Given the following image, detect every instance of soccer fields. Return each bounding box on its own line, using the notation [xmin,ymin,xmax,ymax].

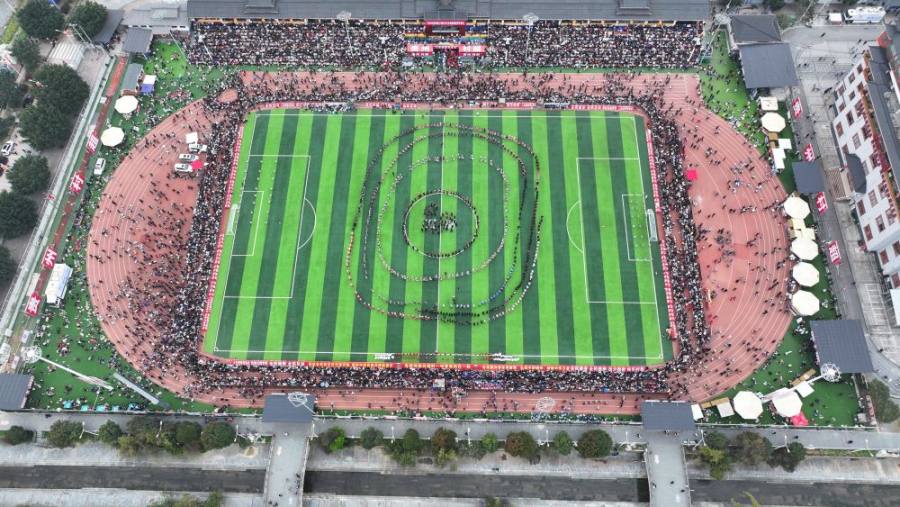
[199,109,679,366]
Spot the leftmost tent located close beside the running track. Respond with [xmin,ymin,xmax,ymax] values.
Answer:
[45,264,76,303]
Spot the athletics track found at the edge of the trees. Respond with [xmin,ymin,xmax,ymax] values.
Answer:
[87,71,794,415]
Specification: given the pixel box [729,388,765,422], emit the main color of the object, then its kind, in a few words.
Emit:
white umbrella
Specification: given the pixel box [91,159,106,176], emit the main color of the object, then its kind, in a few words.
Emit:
white car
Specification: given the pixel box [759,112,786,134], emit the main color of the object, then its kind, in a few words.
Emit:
white umbrella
